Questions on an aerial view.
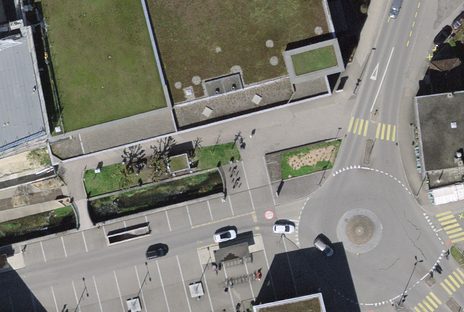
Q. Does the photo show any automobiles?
Yes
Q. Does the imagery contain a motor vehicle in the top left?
No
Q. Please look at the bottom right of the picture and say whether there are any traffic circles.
Yes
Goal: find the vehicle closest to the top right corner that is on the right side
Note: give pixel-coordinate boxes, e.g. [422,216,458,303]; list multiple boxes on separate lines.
[450,10,464,30]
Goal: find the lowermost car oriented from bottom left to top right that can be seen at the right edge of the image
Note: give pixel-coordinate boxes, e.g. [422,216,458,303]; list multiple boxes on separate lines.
[432,24,454,46]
